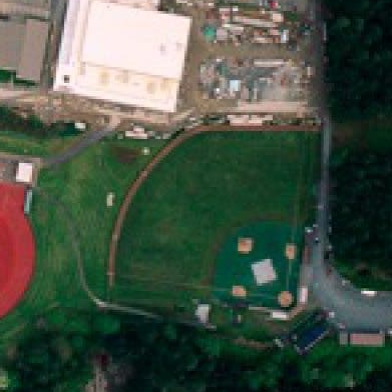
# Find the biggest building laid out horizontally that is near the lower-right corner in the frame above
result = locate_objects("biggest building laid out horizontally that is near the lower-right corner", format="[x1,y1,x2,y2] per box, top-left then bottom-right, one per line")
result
[350,334,384,346]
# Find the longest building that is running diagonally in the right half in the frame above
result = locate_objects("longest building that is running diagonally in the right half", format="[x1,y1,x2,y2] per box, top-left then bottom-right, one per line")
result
[295,325,331,354]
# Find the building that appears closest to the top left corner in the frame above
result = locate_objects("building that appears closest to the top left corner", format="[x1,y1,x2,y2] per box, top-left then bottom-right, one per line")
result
[0,19,49,83]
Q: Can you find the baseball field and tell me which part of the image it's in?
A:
center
